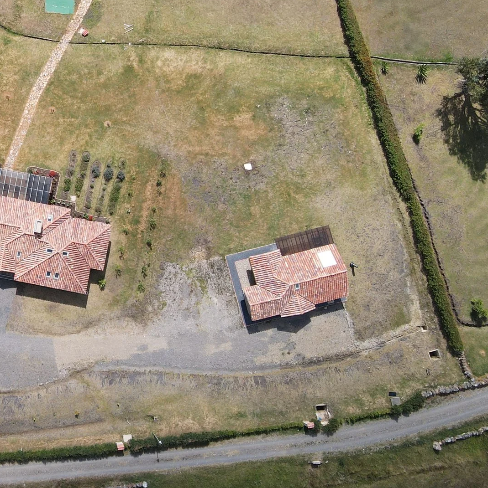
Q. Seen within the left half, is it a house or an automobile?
house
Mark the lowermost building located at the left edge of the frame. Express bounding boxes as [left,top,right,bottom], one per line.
[0,196,113,295]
